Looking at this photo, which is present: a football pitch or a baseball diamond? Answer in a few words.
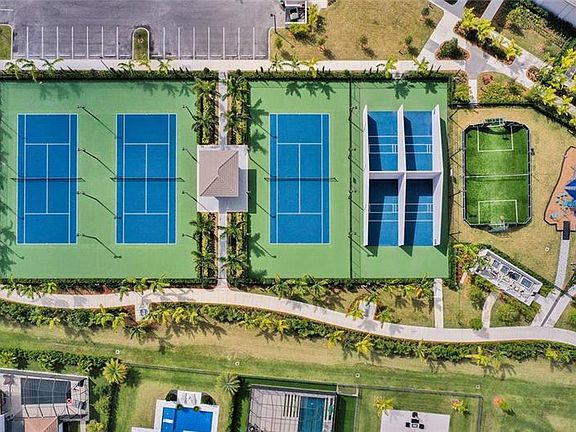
football pitch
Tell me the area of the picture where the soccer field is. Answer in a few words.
right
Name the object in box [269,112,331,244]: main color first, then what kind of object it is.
blue tennis court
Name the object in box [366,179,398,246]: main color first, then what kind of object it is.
blue sports court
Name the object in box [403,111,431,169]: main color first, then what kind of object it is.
blue sports court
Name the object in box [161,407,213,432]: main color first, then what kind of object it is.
blue swimming pool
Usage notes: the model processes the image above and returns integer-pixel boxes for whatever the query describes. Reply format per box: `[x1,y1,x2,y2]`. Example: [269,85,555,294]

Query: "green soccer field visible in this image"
[467,124,530,225]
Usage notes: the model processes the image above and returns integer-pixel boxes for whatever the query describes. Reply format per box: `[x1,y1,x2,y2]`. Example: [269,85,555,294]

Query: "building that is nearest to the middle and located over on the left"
[197,145,248,212]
